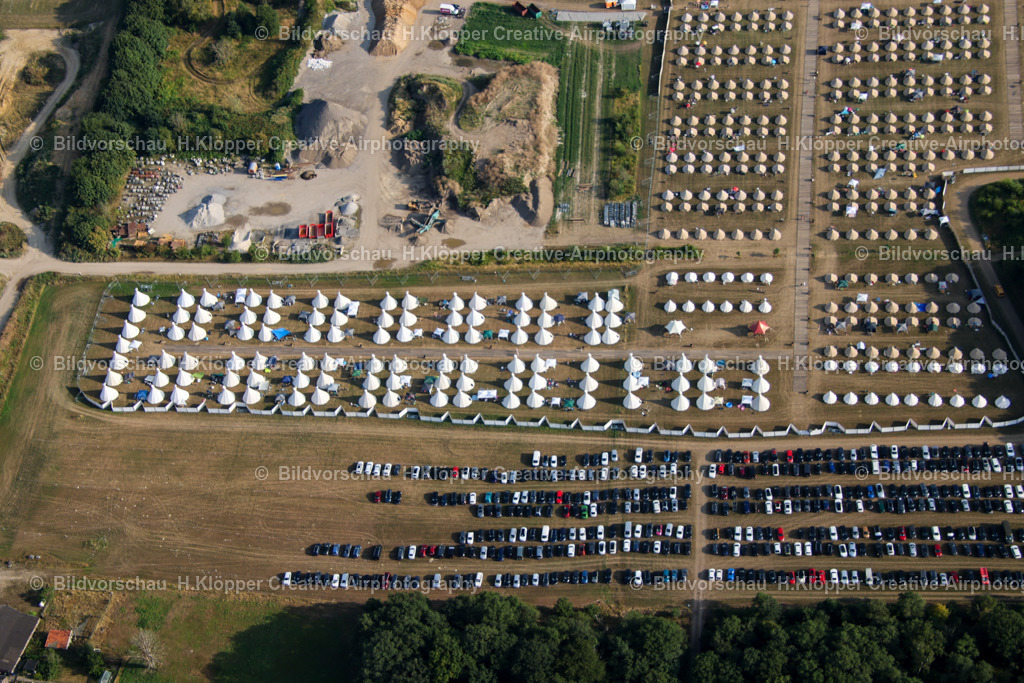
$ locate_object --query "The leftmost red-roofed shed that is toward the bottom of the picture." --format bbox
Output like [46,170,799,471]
[44,630,72,653]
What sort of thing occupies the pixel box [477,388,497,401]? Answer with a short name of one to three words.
gazebo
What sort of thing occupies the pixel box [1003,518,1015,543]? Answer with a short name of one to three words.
vehicle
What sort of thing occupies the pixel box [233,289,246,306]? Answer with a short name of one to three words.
gazebo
